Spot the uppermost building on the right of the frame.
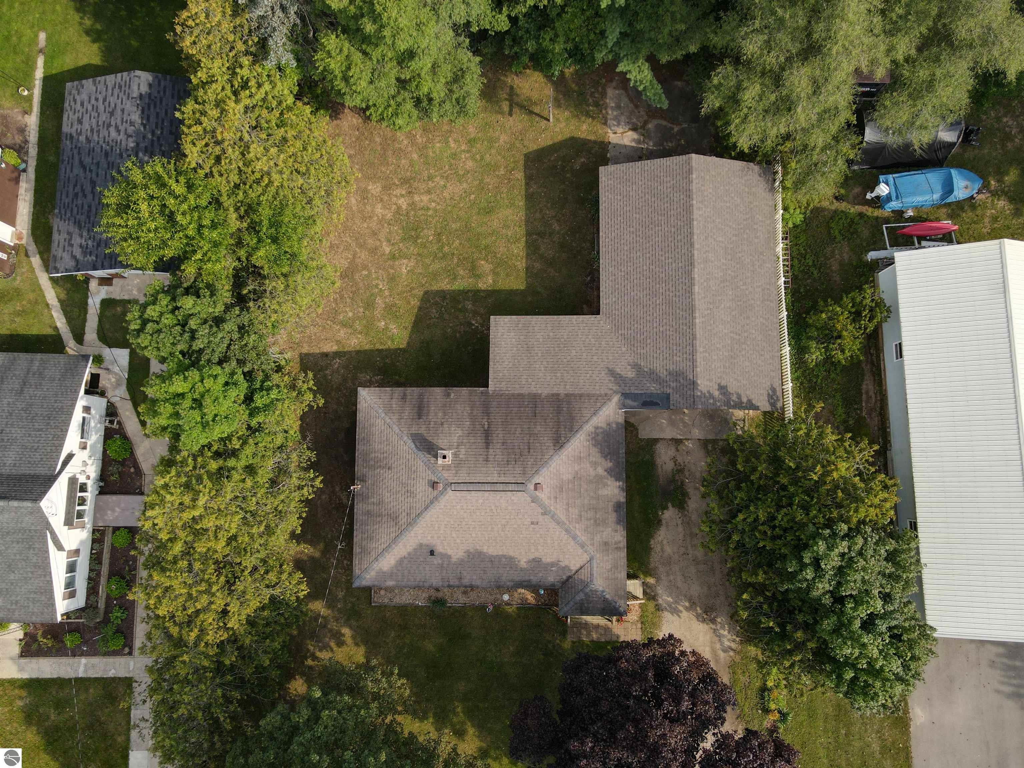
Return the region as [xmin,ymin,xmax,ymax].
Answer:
[487,153,783,413]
